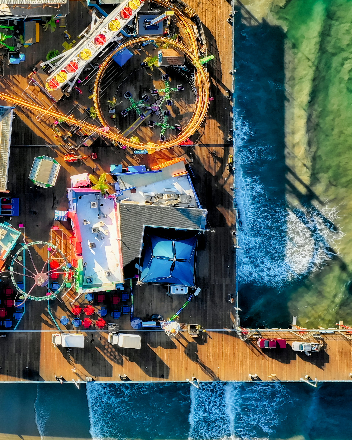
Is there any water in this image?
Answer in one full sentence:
Yes, there is water in the image.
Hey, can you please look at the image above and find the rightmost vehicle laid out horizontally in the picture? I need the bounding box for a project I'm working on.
[291,340,321,353]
